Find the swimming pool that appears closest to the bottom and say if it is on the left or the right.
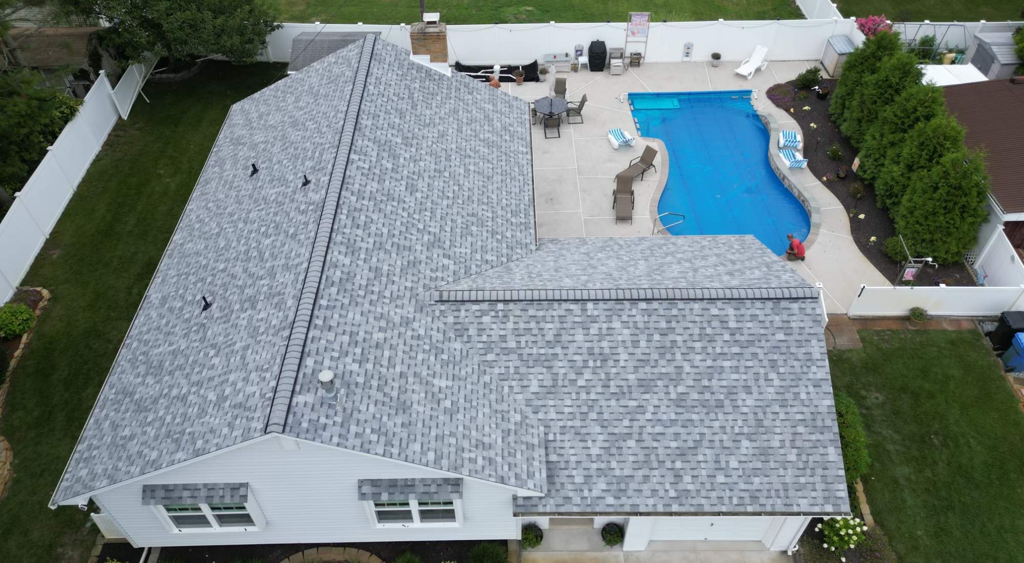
right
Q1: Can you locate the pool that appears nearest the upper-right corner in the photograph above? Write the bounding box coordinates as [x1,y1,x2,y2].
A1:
[628,92,821,264]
